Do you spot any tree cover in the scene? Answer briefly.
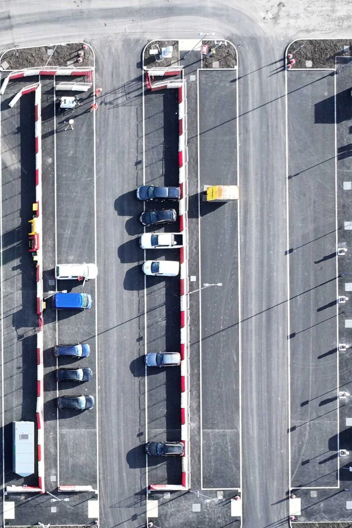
No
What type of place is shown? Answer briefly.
parking lot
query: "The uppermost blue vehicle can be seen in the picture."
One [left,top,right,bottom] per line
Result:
[136,182,182,202]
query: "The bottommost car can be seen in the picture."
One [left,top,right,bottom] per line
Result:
[144,440,184,458]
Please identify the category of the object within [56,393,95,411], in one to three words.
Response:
car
